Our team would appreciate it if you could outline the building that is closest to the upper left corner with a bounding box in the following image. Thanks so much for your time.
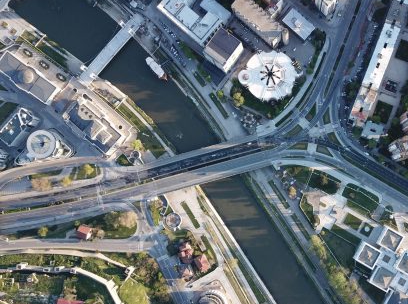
[0,52,62,106]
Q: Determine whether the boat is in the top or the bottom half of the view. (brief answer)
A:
top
